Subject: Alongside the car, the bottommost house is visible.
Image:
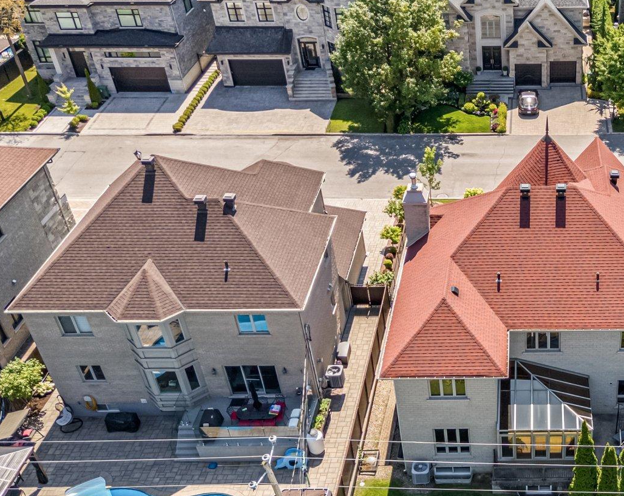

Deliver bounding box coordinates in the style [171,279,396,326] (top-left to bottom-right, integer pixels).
[376,119,624,496]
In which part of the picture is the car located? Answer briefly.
top right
